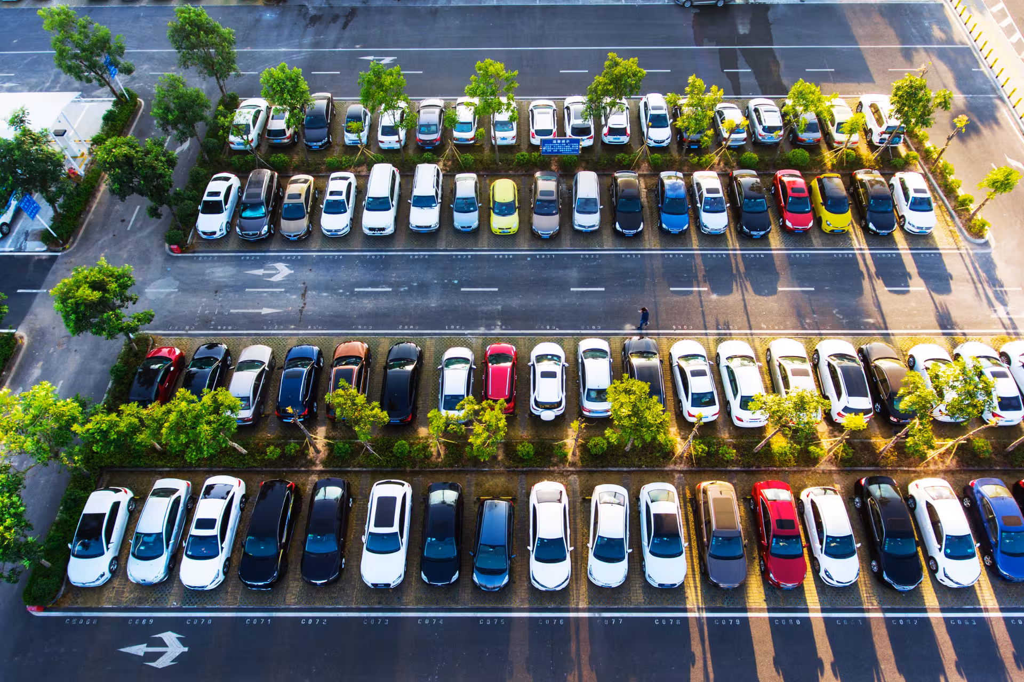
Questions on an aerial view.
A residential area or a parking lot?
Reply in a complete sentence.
What you see here is a parking lot.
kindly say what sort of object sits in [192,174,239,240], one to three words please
car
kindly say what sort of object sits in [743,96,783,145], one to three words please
car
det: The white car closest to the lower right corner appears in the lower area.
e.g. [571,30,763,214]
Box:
[907,480,980,588]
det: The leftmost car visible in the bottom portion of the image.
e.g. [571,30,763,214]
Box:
[63,491,133,588]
